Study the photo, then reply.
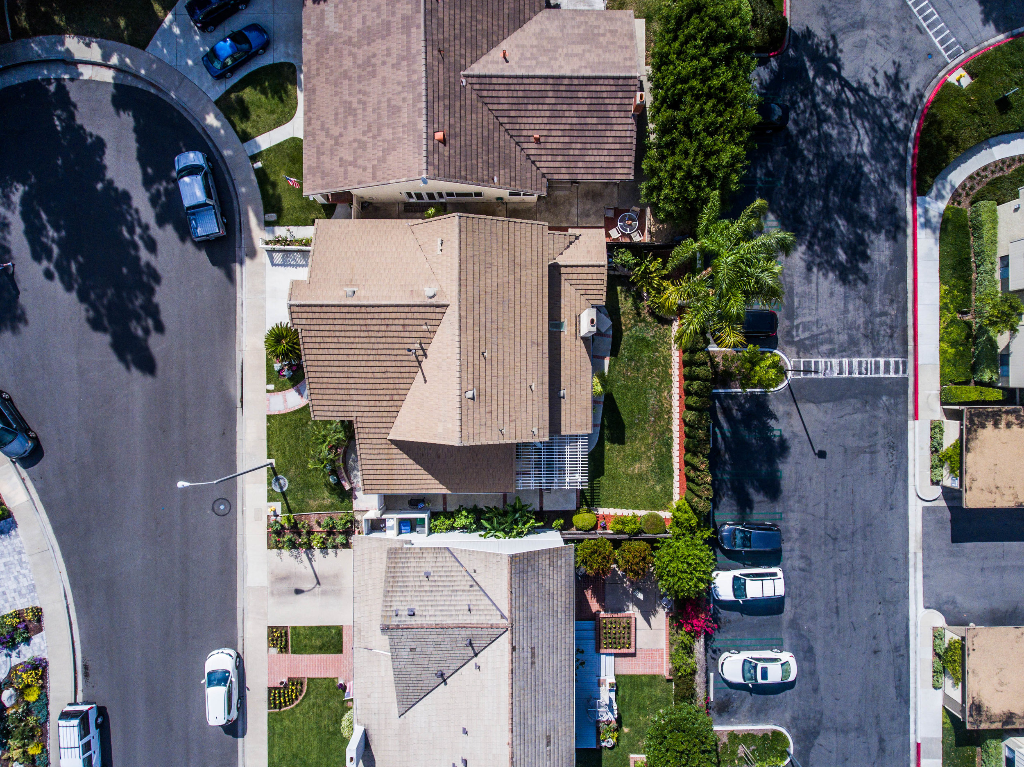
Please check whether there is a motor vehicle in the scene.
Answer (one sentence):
Yes, looking at the shot, I can spot a motor vehicle.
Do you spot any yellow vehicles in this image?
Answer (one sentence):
No, no yellow vehicle is visible in the scene.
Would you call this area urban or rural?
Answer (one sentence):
From above, the setting appears urban.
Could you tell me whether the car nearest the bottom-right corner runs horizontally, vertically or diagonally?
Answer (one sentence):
Seen from above, the car nearest the bottom-right corner lies horizontally.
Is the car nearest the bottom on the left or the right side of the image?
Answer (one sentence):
The car nearest the bottom sits on the left side.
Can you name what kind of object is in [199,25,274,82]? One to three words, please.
car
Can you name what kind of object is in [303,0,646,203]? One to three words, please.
house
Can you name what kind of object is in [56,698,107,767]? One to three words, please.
car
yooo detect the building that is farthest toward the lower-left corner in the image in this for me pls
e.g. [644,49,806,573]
[346,530,576,767]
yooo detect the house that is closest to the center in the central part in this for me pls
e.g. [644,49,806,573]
[286,211,609,497]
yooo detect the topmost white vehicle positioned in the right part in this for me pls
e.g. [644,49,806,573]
[709,567,787,606]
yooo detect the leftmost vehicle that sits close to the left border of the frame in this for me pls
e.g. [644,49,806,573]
[0,383,41,460]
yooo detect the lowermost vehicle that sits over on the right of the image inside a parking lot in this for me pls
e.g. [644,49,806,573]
[716,649,797,691]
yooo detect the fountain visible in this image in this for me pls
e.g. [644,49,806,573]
[271,476,288,493]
